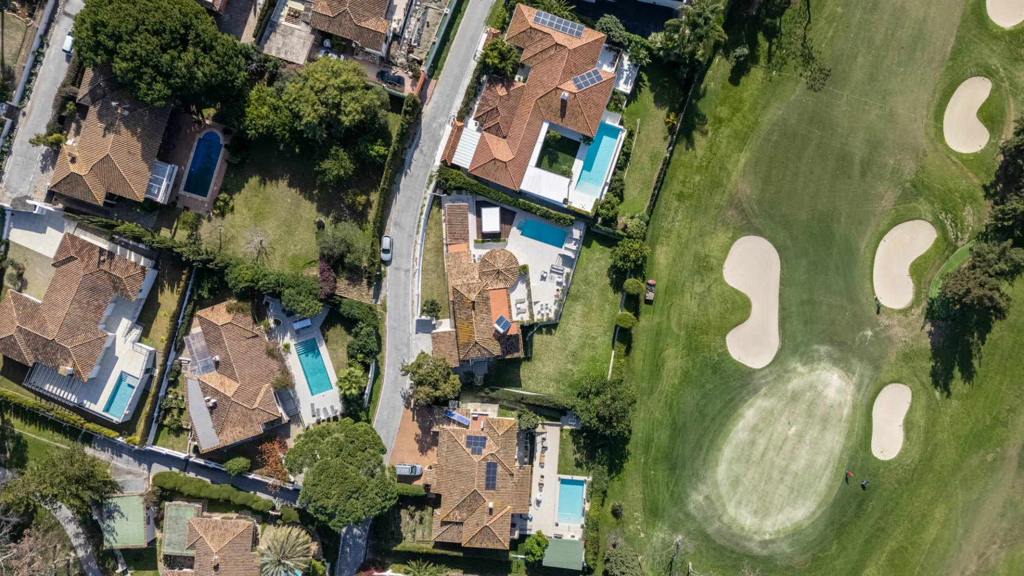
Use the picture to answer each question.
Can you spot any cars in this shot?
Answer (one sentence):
Yes, there's a car down there.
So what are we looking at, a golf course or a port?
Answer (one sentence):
The area seen from above is a golf course.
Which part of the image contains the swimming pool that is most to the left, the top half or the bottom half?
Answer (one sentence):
The swimming pool that is most to the left sits in the bottom half of the picture.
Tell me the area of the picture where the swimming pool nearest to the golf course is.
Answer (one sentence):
The swimming pool nearest to the golf course is located in the bottom region of the scene.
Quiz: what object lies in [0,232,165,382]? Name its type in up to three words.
house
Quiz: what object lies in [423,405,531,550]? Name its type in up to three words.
house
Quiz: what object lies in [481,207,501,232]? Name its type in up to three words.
building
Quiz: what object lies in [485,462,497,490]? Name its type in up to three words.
solar panel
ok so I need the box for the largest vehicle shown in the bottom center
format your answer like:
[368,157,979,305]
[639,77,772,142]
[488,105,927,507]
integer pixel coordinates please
[396,462,423,475]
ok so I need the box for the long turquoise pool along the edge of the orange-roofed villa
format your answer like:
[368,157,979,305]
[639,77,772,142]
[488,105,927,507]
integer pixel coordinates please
[573,120,622,199]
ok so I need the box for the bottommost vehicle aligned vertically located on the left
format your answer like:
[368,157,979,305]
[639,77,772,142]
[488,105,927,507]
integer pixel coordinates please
[381,236,393,262]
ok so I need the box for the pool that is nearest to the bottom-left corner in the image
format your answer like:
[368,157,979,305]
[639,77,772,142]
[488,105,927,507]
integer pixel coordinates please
[101,369,143,420]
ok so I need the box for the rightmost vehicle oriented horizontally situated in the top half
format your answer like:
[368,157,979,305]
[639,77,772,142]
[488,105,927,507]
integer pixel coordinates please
[377,72,405,88]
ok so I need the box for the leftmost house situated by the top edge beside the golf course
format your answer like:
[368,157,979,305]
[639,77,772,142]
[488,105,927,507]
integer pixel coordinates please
[467,2,616,190]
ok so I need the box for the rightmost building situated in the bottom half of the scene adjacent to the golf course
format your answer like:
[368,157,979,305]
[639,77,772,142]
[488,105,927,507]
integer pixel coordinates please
[543,536,586,570]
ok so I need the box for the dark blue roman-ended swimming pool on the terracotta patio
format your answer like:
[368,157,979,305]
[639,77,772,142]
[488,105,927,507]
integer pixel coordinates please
[179,128,225,201]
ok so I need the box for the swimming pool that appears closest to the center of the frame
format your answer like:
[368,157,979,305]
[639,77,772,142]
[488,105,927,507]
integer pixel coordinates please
[515,218,570,250]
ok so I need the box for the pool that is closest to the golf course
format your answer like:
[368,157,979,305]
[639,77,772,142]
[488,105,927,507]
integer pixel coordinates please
[555,476,587,527]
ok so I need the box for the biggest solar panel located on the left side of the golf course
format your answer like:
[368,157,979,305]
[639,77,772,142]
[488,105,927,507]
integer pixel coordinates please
[533,10,585,38]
